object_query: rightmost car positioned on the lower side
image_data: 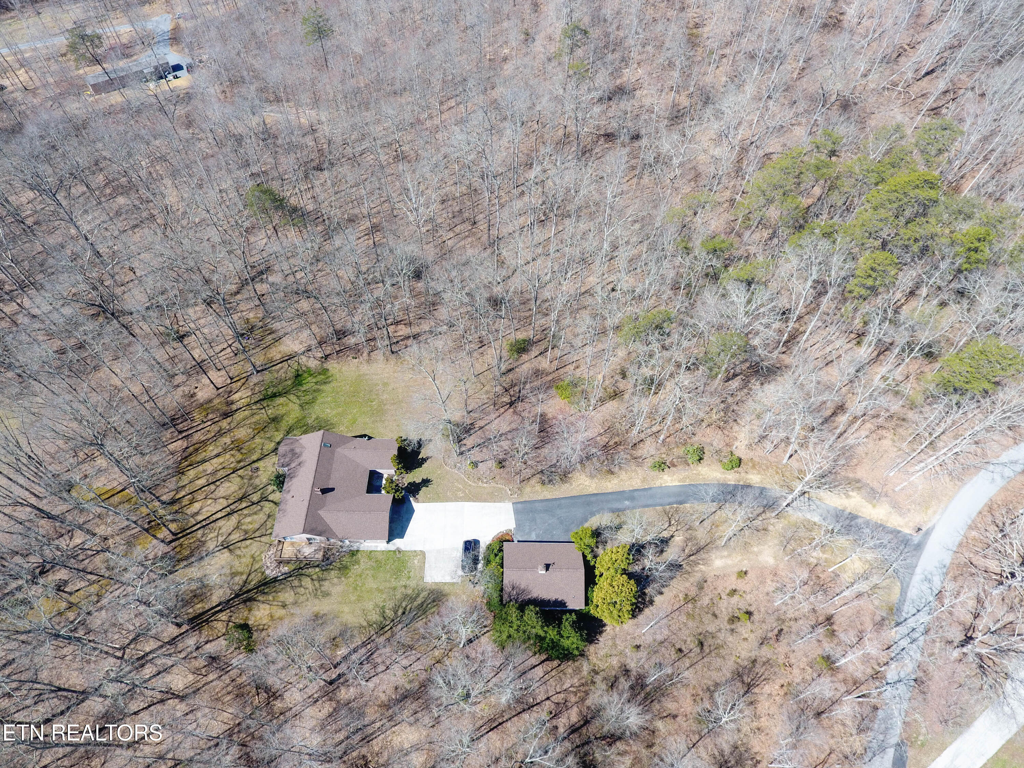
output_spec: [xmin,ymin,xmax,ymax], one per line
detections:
[459,542,474,574]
